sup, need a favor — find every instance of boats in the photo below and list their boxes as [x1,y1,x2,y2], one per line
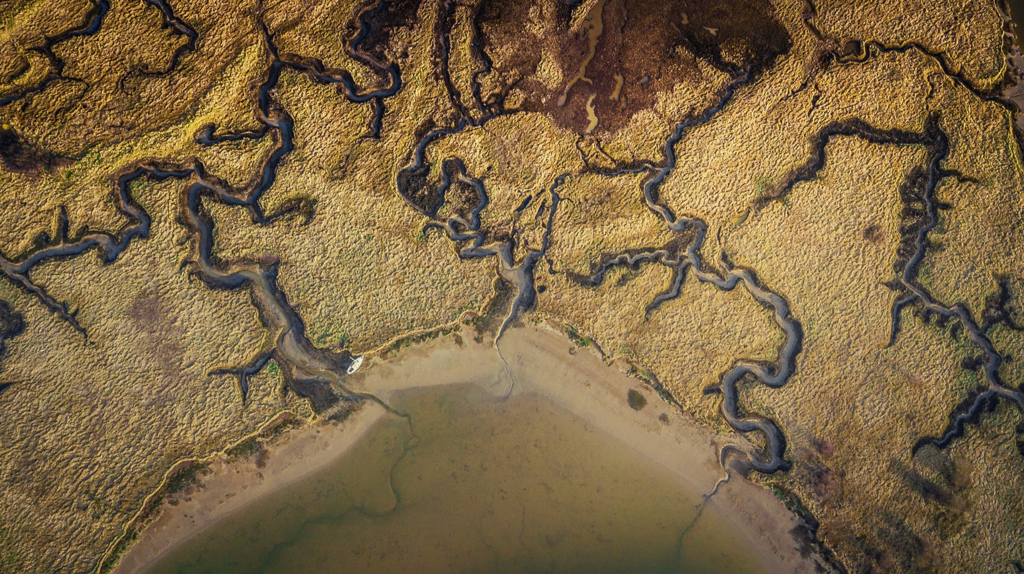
[345,356,364,376]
